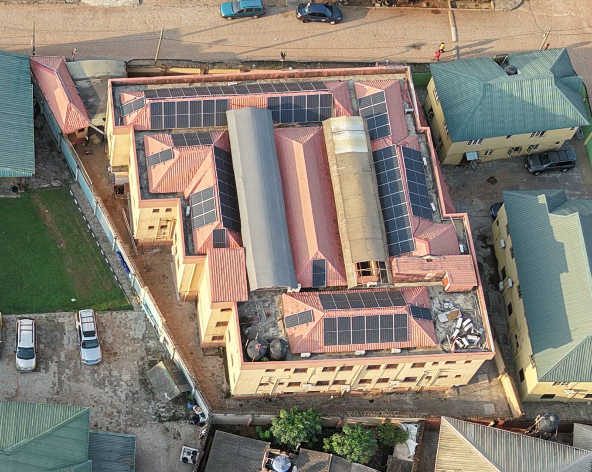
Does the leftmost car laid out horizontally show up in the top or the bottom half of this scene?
top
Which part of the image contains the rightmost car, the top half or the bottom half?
top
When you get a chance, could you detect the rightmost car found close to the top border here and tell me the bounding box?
[295,4,343,26]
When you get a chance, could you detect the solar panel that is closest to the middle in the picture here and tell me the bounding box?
[313,259,326,287]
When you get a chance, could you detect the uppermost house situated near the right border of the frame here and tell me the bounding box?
[425,47,592,161]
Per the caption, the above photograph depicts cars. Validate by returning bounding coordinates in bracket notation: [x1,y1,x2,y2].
[76,311,102,365]
[487,198,504,220]
[523,147,579,177]
[14,319,38,371]
[295,4,343,26]
[219,0,266,21]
